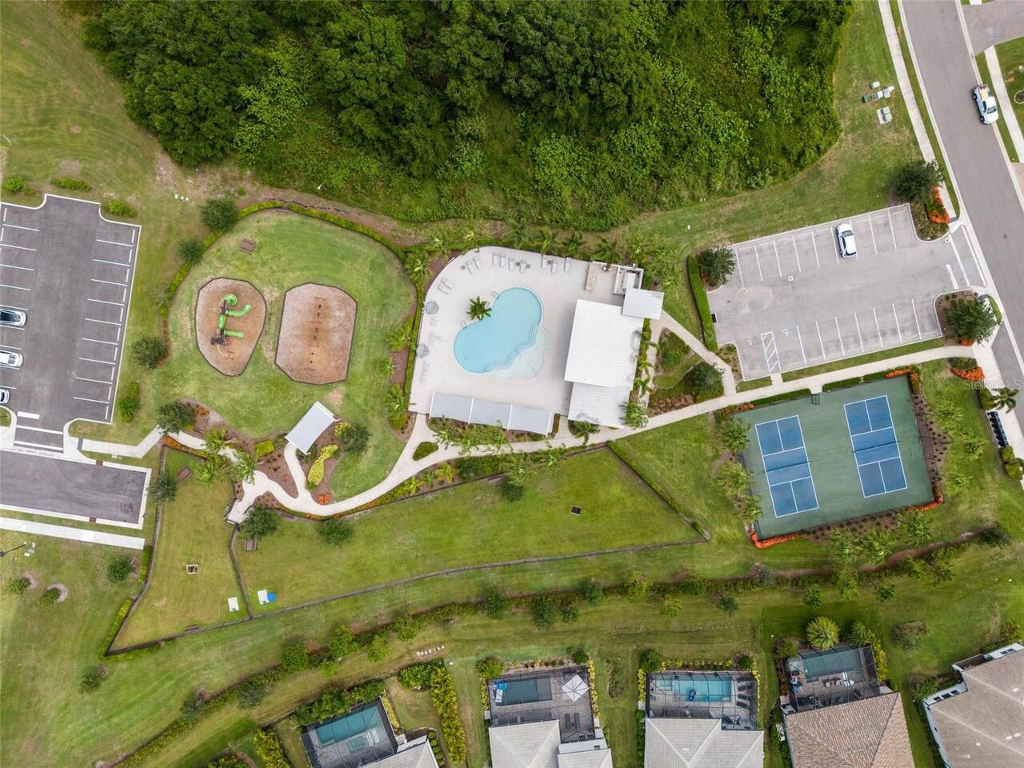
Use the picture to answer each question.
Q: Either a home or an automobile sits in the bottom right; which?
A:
home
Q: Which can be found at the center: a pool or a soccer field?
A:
pool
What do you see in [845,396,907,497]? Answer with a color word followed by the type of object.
blue sports court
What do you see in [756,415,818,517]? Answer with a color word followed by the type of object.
blue sports court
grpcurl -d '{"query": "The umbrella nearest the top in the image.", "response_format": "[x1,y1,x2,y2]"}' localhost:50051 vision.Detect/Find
[425,300,439,314]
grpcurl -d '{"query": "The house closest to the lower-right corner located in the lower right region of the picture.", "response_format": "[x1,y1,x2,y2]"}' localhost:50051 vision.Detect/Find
[920,644,1024,768]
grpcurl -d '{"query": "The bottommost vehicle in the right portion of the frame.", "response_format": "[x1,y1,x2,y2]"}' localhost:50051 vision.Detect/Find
[835,222,859,258]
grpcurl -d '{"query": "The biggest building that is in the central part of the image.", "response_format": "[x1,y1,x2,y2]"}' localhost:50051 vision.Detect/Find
[564,286,664,428]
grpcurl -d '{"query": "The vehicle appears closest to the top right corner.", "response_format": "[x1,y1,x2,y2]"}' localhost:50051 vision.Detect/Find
[975,80,1002,123]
